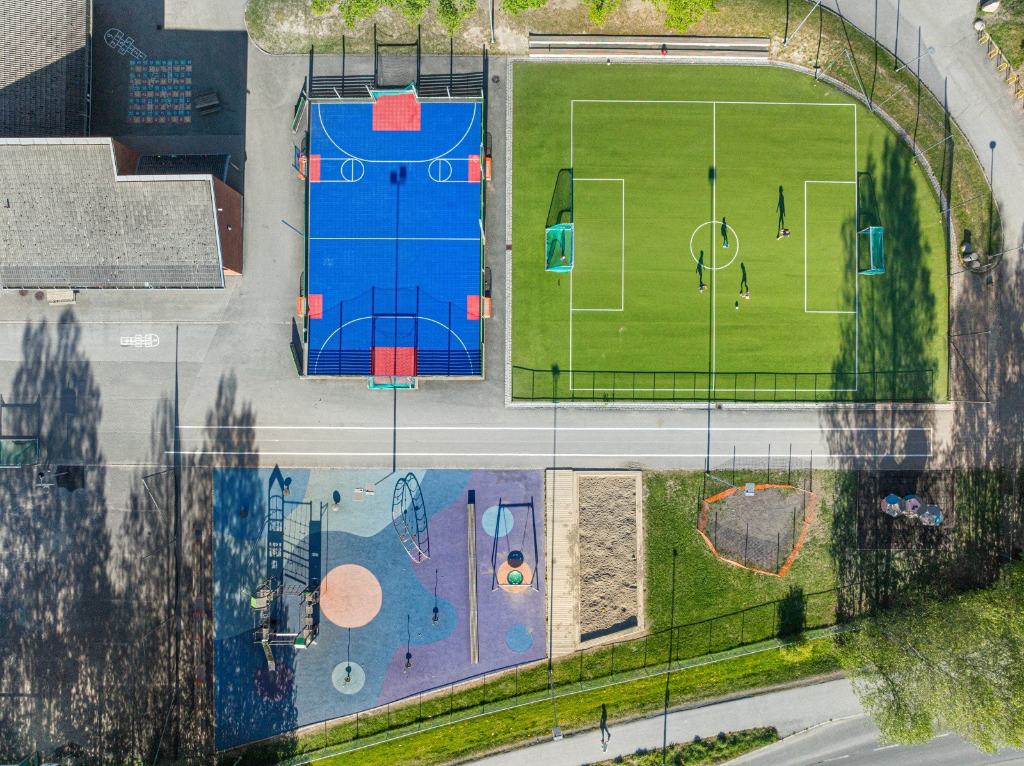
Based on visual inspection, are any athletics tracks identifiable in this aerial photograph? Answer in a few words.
Yes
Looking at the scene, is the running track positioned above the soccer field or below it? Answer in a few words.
below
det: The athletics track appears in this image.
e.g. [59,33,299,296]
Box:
[165,426,932,456]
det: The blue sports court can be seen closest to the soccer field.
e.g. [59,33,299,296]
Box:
[300,89,488,387]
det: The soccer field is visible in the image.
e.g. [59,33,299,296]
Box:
[513,62,949,402]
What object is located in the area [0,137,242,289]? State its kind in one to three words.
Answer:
building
